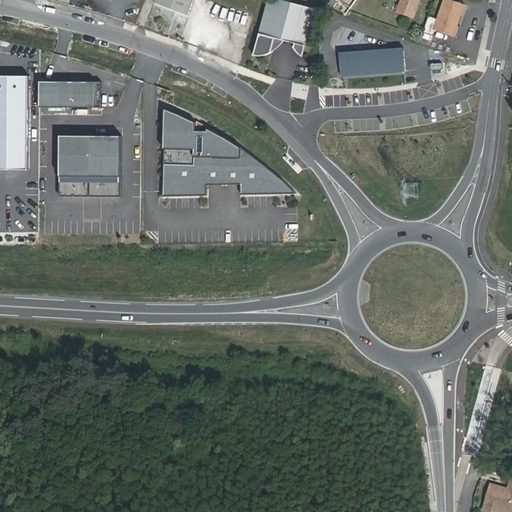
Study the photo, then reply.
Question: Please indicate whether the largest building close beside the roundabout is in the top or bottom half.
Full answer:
The largest building close beside the roundabout is in the top half of the image.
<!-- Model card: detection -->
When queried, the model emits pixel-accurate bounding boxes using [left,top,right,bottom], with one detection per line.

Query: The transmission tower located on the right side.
[401,176,420,203]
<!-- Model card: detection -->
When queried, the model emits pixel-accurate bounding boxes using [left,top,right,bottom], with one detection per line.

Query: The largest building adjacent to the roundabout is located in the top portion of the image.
[162,110,300,206]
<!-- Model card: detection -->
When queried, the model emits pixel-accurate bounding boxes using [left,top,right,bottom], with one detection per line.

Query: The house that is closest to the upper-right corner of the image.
[433,0,469,38]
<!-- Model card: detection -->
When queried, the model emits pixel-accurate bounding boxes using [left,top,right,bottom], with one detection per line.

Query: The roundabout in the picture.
[262,183,512,425]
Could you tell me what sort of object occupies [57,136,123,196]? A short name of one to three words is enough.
building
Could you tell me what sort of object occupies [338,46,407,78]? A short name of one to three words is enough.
building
